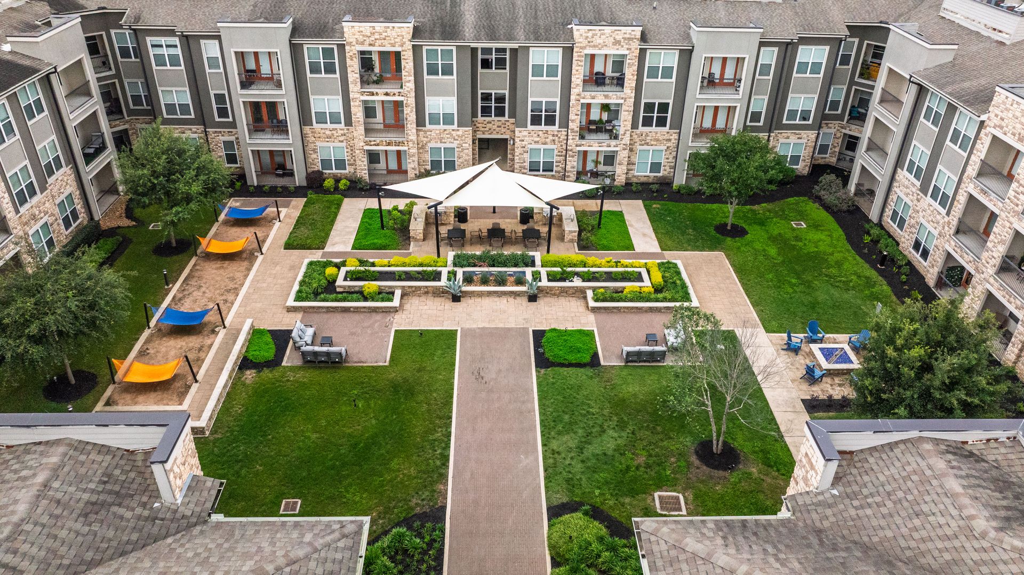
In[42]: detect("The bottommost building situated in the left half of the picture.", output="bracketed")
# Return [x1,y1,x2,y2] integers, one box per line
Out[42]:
[0,408,375,575]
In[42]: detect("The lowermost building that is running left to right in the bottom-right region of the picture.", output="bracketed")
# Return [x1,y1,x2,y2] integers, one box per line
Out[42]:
[627,416,1024,575]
